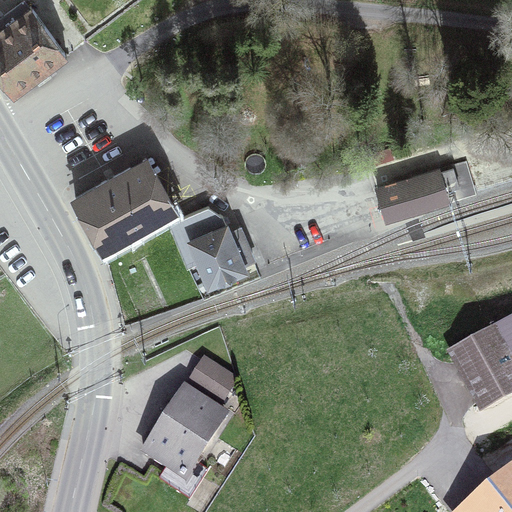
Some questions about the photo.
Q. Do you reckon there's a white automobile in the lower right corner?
No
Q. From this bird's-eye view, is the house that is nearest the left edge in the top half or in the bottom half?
top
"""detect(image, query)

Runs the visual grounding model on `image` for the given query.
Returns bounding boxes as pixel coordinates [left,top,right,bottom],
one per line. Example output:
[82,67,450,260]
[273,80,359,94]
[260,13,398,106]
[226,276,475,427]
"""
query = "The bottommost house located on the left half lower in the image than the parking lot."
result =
[144,384,229,498]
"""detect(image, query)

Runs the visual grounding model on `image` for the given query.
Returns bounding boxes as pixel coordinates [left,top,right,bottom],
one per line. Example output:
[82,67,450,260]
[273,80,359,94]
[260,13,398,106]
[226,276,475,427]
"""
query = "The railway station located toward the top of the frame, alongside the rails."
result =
[376,168,459,225]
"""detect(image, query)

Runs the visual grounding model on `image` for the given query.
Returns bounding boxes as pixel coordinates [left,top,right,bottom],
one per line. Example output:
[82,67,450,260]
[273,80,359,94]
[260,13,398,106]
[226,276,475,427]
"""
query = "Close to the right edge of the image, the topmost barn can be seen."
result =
[446,314,512,412]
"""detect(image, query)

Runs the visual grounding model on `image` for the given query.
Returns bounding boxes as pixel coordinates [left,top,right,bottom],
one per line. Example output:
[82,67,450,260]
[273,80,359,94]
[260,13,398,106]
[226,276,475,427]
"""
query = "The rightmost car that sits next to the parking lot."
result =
[210,196,229,213]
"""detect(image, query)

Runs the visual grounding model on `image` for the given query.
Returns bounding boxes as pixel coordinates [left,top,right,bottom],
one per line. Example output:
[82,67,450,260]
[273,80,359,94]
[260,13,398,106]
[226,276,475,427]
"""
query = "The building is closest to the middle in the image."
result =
[172,209,254,293]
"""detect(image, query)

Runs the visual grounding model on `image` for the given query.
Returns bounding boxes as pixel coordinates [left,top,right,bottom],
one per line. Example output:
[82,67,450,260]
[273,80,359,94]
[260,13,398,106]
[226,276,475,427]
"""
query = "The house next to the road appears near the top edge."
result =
[0,2,68,112]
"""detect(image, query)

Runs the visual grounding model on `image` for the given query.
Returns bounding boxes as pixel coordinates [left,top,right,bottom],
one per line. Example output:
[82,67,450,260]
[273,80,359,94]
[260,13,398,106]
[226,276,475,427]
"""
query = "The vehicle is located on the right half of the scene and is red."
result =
[309,224,324,245]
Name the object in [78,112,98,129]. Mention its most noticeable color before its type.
gray car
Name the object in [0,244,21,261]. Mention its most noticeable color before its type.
white car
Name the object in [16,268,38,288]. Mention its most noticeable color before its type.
white car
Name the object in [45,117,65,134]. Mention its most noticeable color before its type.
blue car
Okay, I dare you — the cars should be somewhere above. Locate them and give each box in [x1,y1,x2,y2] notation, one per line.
[295,228,309,250]
[55,126,78,144]
[74,296,86,318]
[78,112,98,129]
[45,117,65,134]
[16,268,38,288]
[309,224,324,245]
[62,134,84,152]
[102,146,124,162]
[0,244,21,261]
[92,135,114,152]
[86,121,109,139]
[8,256,28,273]
[64,263,77,286]
[0,230,11,244]
[68,149,91,166]
[210,196,229,213]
